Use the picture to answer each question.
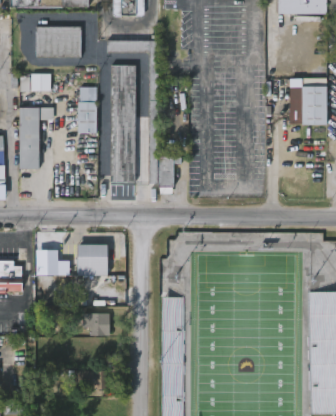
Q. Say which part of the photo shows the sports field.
bottom right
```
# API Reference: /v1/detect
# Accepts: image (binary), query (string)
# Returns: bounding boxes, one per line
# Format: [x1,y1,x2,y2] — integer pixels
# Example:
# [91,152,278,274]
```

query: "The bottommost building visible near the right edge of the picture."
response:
[290,78,326,126]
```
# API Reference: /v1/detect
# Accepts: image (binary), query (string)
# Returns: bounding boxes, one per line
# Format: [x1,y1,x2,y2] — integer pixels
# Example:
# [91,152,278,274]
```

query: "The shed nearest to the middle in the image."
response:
[159,158,182,194]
